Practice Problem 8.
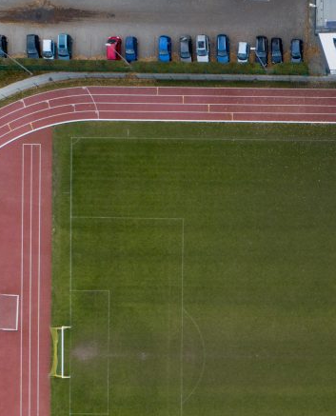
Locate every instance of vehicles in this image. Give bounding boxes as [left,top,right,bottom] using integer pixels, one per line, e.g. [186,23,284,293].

[214,33,230,64]
[270,38,282,64]
[156,35,171,62]
[255,36,268,64]
[288,38,303,64]
[194,35,209,64]
[0,35,7,59]
[122,36,137,62]
[39,37,54,62]
[234,40,248,65]
[22,35,39,59]
[55,33,71,60]
[176,36,192,62]
[107,37,121,60]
